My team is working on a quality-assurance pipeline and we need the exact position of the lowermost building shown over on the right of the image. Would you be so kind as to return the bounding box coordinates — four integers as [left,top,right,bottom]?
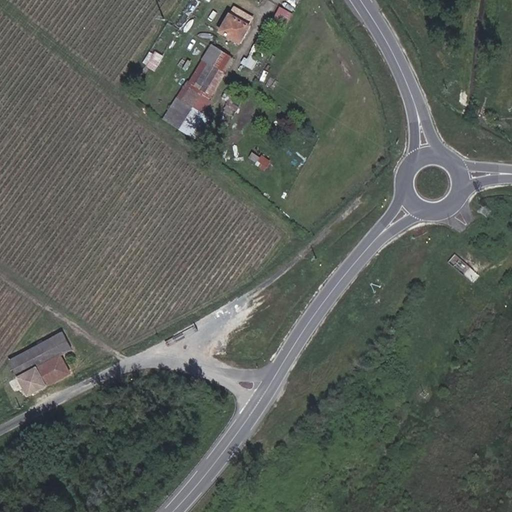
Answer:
[448,253,480,283]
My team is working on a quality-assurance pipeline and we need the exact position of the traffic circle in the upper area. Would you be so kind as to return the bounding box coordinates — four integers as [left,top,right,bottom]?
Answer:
[376,112,512,246]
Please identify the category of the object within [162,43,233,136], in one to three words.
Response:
barn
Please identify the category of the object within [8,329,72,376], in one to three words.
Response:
shed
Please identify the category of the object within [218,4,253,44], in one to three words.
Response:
house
